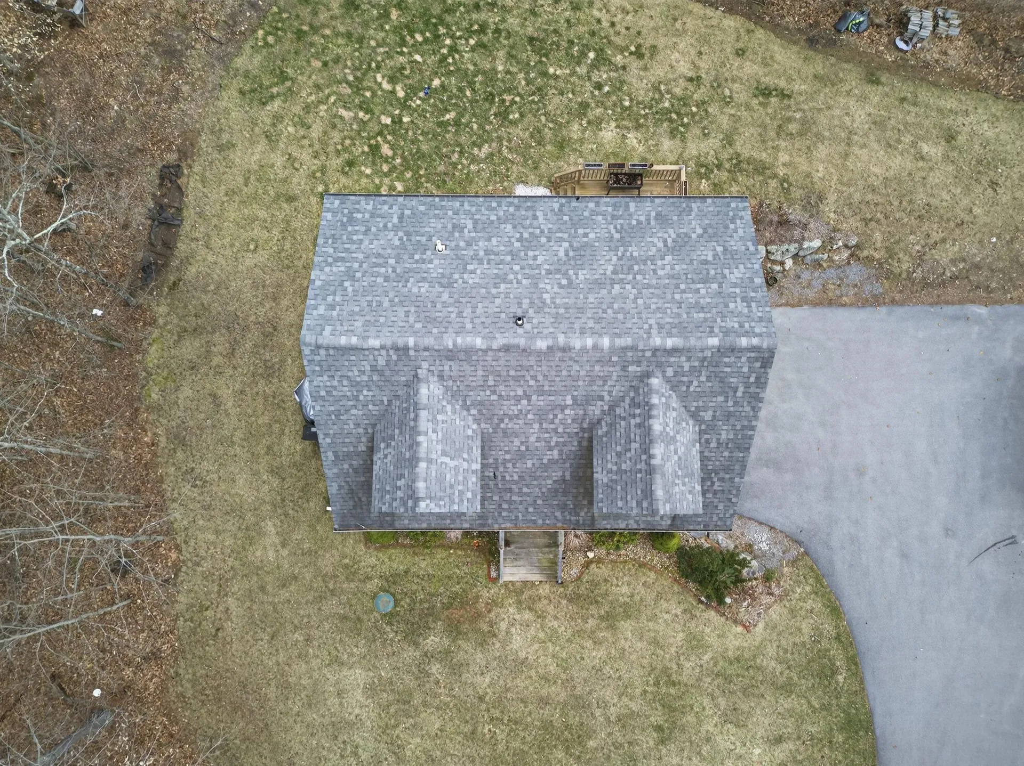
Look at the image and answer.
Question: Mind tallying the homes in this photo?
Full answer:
The photo contains exactly 1 home.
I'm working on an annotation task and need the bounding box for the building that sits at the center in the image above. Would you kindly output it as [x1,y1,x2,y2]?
[299,191,778,537]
